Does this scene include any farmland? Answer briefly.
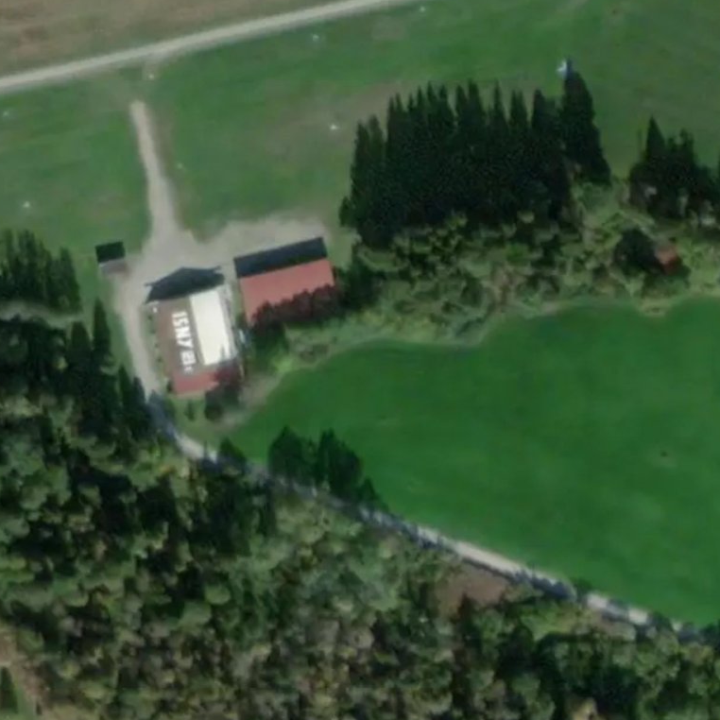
Yes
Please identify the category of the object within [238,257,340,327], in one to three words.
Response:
hangar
